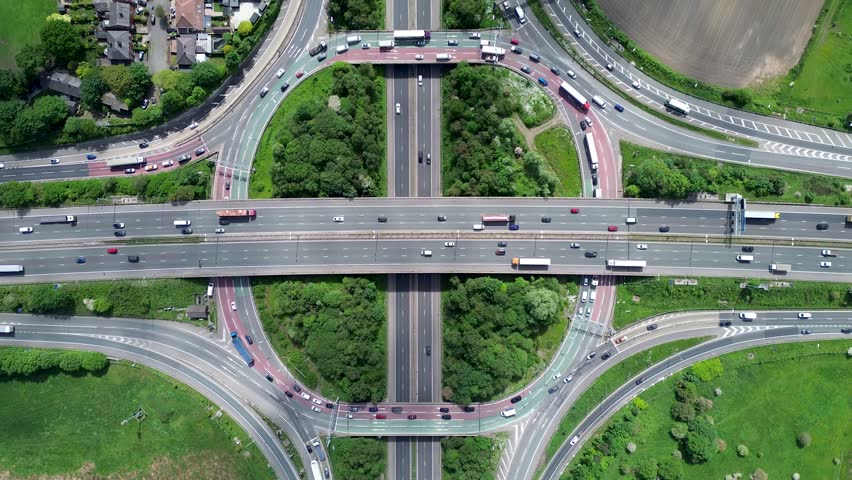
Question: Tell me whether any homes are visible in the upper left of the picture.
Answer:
Yes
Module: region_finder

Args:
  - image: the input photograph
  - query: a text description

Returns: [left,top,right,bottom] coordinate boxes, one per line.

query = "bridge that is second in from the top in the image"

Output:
[185,196,646,277]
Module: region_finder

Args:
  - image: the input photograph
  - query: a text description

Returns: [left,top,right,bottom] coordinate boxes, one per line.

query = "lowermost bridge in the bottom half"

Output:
[353,402,476,438]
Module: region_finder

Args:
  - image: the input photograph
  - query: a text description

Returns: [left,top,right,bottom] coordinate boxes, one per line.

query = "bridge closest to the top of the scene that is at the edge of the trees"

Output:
[349,30,478,66]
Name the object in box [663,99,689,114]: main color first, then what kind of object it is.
white vehicle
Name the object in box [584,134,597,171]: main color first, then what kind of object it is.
white vehicle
